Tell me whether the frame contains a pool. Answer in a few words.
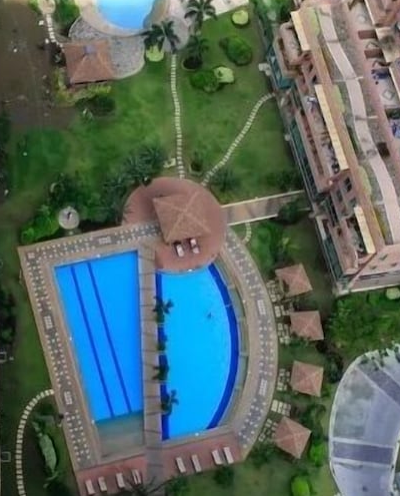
Yes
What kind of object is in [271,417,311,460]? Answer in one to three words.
shed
